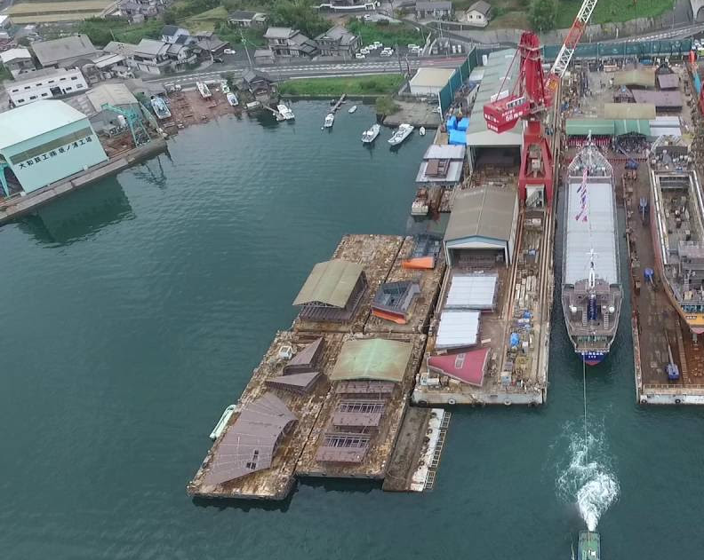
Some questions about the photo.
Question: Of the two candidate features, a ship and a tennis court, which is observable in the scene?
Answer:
ship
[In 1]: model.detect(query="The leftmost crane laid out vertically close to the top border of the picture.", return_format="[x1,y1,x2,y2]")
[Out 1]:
[481,0,605,214]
